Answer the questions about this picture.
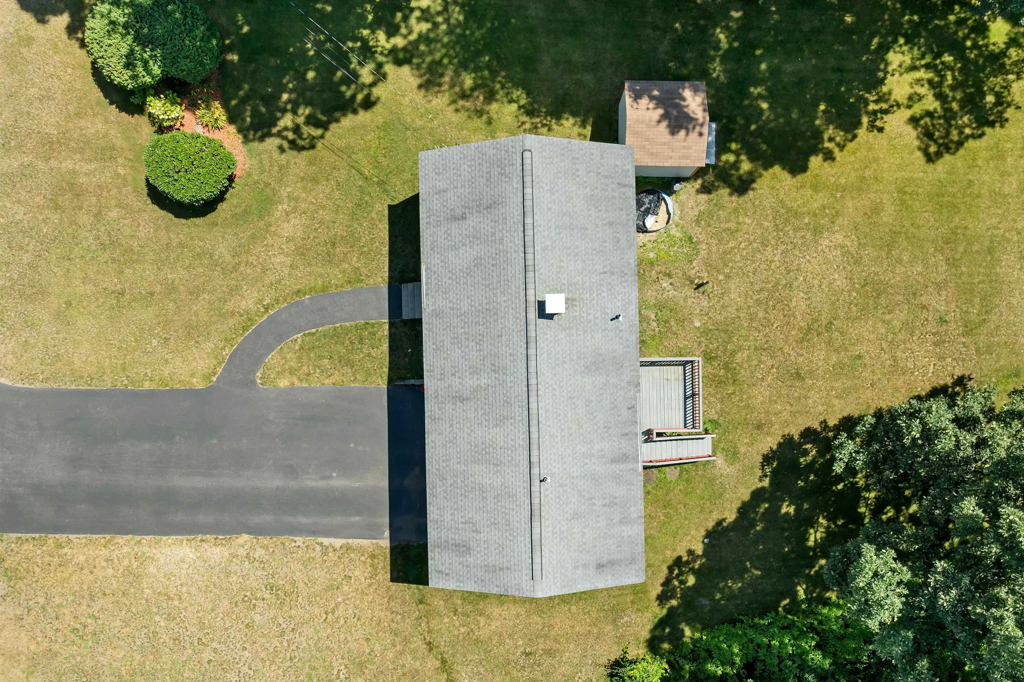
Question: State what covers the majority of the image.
grass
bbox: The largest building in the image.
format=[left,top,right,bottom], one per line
[417,136,646,599]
